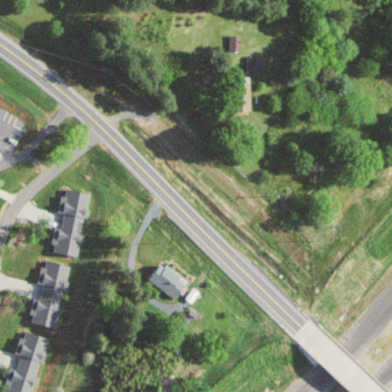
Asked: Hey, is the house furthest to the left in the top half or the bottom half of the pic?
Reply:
bottom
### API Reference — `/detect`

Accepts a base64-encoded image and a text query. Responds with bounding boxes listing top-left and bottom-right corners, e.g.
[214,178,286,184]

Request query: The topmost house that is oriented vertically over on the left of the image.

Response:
[50,189,90,258]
